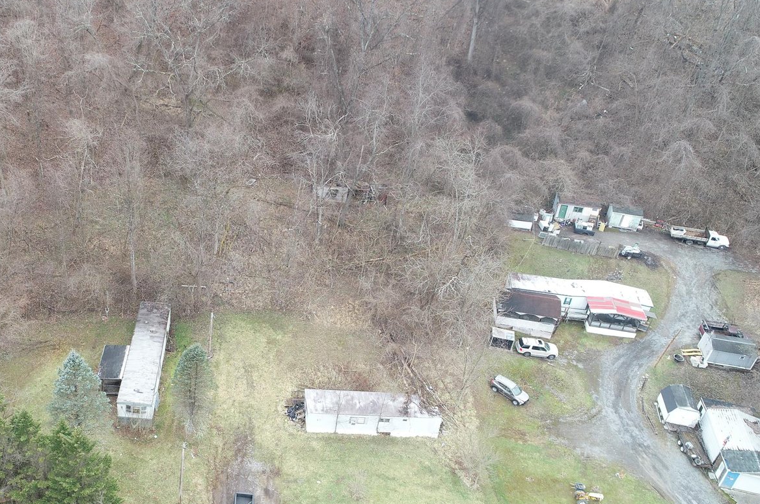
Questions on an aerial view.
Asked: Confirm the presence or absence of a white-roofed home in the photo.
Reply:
Yes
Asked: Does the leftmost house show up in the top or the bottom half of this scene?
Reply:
bottom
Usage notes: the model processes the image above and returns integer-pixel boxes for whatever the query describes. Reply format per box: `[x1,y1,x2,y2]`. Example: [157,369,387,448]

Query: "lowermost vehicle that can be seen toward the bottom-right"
[573,482,609,504]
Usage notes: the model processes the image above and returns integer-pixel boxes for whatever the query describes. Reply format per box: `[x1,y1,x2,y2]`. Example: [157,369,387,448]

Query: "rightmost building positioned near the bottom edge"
[696,391,760,495]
